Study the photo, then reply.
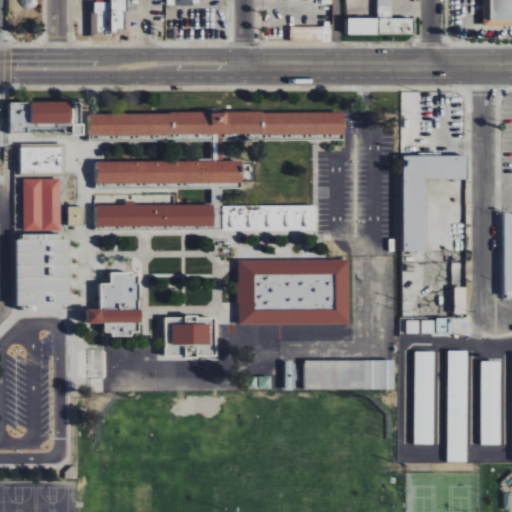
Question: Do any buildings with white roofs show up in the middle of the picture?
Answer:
Yes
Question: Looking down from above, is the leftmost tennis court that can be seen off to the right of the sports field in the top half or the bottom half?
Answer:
bottom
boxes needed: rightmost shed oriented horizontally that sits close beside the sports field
[302,360,392,388]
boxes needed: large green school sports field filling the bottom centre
[76,392,406,512]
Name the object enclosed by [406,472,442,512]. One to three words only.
tennis court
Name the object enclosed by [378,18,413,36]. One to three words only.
building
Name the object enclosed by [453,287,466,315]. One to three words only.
shed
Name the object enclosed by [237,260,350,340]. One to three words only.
building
